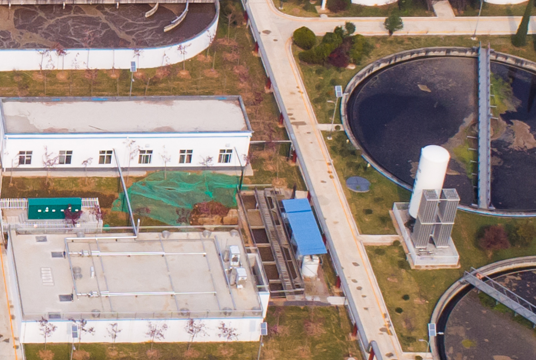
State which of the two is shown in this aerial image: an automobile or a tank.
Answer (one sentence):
The one in the frame is a tank.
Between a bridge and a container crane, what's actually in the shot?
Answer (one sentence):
I can see a bridge in this picture.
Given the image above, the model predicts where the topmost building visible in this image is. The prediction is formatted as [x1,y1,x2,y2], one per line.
[0,96,253,171]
